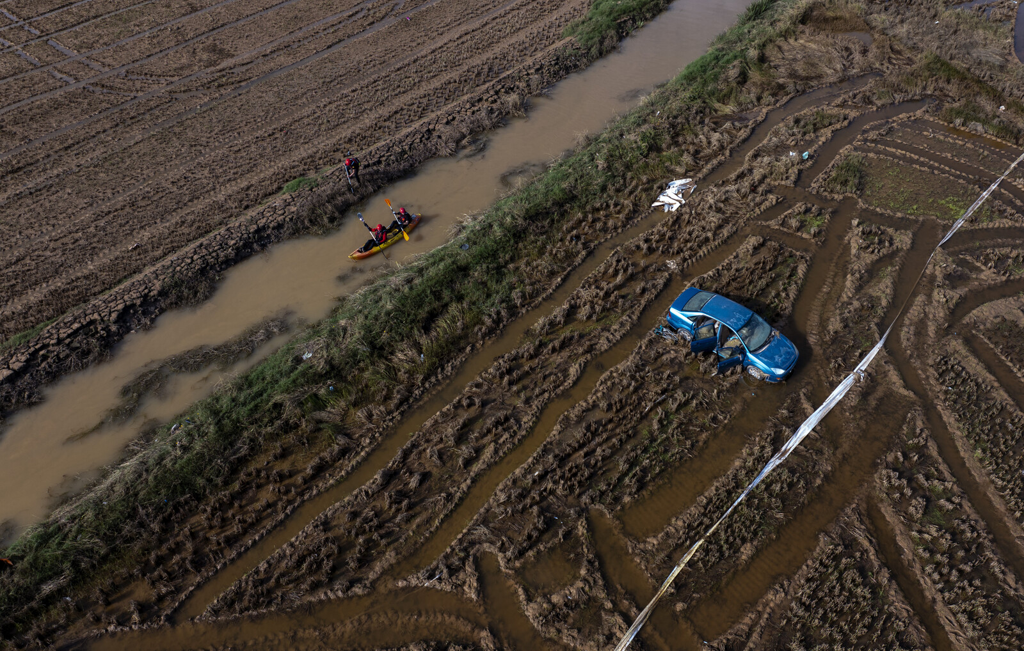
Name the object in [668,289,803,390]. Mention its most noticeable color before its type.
blue car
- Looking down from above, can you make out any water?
Yes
